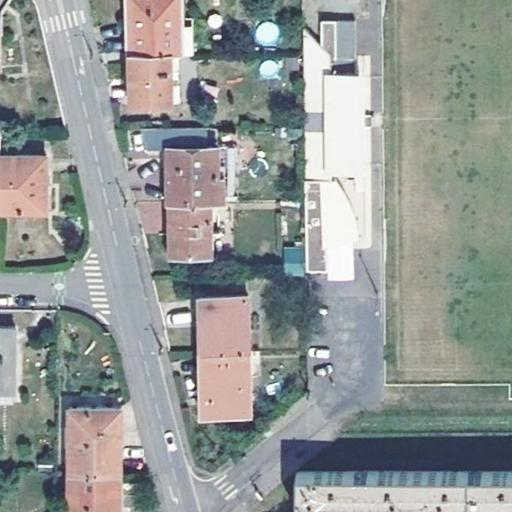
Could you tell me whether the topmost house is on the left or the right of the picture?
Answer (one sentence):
The topmost house sits on the left side.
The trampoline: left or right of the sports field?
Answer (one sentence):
Looking at the picture, you'll find the trampoline to the left of the sports field.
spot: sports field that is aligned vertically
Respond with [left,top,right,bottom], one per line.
[384,0,512,384]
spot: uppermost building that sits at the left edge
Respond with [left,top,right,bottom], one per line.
[0,154,50,219]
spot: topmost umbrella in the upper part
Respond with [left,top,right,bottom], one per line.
[208,14,223,28]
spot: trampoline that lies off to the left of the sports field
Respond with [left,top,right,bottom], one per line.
[248,156,268,176]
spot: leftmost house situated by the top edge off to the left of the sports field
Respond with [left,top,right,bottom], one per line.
[124,0,194,116]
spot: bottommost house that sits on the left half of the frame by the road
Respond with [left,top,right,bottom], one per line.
[64,407,124,512]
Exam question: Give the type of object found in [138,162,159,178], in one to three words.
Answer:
car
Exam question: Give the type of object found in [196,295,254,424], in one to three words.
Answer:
house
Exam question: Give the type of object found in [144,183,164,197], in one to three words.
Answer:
car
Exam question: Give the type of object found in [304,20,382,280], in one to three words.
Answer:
building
